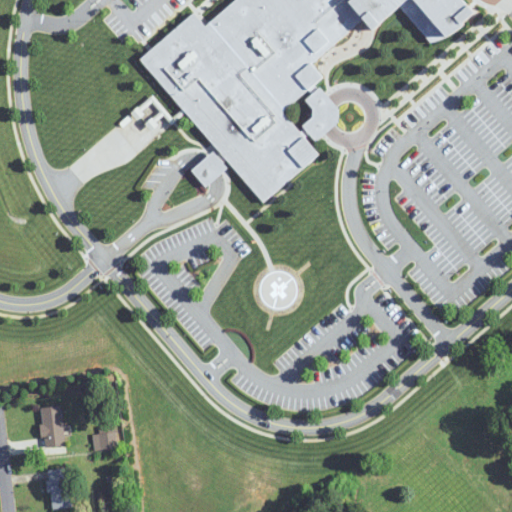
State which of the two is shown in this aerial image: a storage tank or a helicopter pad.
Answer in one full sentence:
It is a helicopter pad that can be seen here.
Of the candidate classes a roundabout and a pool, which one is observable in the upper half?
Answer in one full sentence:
You can see a roundabout in the upper half.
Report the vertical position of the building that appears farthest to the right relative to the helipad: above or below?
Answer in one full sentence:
The position of the building that appears farthest to the right is above the helipad.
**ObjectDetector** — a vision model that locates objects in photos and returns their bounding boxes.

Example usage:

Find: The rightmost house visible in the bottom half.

[92,431,120,452]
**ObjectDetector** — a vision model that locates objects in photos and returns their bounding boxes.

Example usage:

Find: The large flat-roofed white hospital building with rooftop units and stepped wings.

[141,0,472,204]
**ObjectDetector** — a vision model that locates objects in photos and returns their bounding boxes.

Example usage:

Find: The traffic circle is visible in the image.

[327,92,376,146]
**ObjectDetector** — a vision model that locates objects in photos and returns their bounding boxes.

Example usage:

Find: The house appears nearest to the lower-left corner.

[47,470,67,510]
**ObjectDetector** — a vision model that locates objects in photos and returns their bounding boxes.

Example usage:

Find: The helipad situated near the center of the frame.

[253,263,311,329]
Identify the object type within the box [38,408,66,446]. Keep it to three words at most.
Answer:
house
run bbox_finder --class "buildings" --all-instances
[38,408,66,446]
[141,0,472,204]
[47,470,67,510]
[92,431,120,452]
